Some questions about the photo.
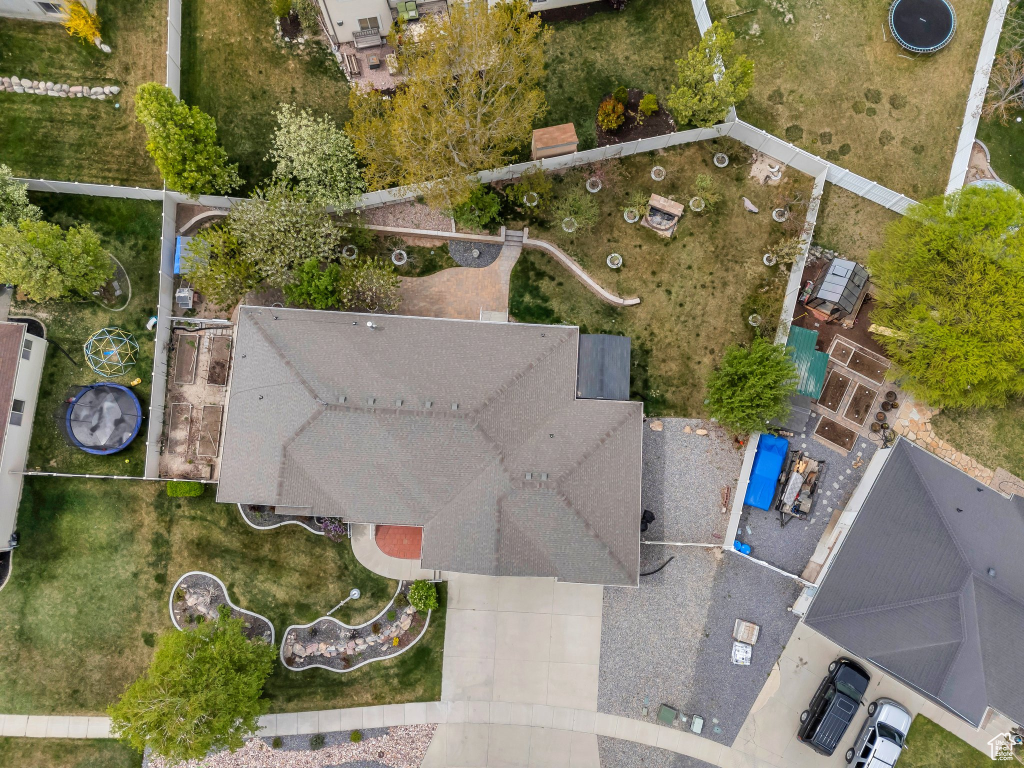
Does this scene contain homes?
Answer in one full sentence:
Yes, there is a home in the image.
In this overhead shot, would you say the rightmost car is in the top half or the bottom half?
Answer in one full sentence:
The bottom half of the photo is where the rightmost car is.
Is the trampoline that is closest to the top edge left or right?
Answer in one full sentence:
The trampoline that is closest to the top edge sits on the right side.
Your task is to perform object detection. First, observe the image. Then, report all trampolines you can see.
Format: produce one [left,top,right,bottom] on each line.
[51,378,150,458]
[885,0,953,60]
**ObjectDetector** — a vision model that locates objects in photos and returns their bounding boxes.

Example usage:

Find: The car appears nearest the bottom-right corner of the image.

[847,698,915,768]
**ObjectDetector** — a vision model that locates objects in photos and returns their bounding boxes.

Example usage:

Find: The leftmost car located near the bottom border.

[800,657,874,758]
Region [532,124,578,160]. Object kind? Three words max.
shed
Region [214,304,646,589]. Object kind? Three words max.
house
